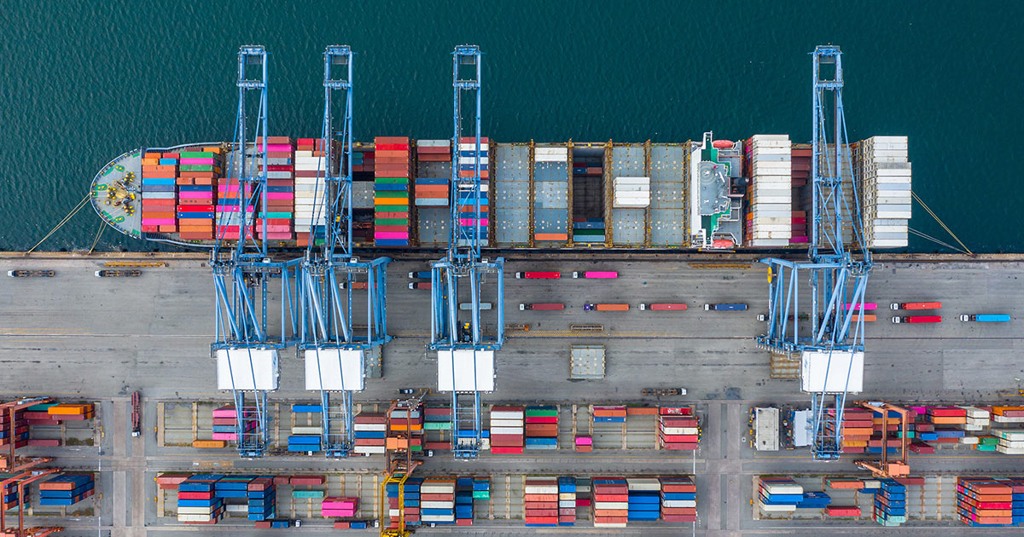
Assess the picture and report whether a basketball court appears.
No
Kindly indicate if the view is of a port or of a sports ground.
port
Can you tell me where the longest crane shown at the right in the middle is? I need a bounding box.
[745,44,876,461]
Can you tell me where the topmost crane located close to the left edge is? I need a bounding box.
[0,393,56,473]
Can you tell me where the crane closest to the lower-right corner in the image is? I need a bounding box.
[851,397,910,481]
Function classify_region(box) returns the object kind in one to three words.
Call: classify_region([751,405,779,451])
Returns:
shed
